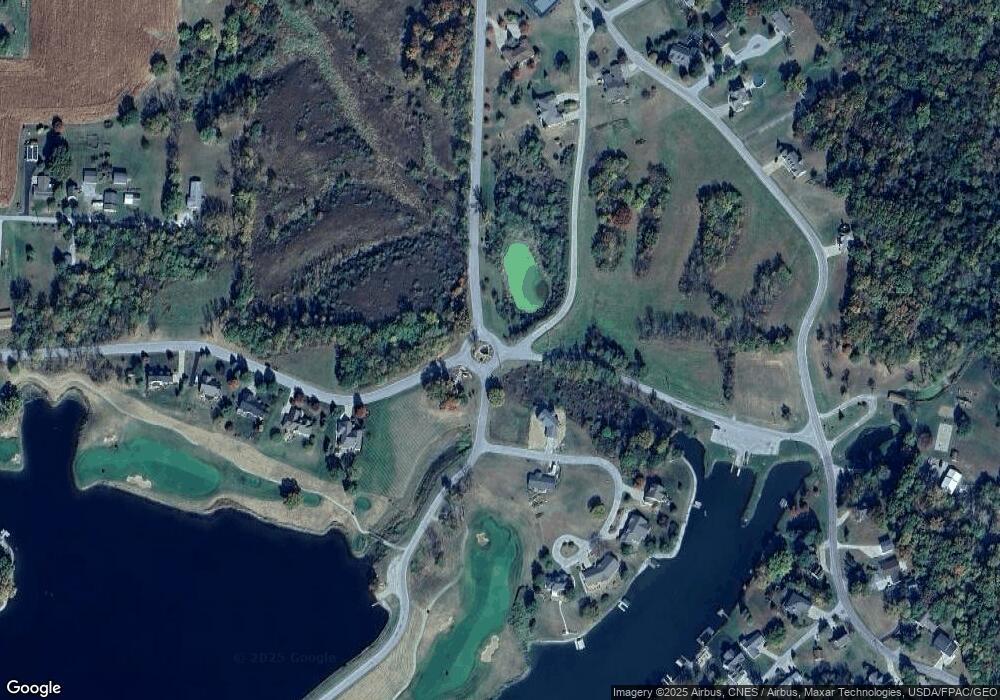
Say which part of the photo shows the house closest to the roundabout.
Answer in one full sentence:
The house closest to the roundabout is in the center part of the image.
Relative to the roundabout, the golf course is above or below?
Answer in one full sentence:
From this view, the golf course can be seen below the roundabout.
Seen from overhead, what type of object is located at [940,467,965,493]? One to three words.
building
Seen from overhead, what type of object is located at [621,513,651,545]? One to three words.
house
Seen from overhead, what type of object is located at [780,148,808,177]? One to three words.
house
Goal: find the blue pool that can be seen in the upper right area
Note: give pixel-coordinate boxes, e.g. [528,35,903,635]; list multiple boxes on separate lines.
[752,73,767,88]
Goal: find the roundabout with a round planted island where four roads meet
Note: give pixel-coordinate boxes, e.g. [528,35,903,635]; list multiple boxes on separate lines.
[425,322,541,388]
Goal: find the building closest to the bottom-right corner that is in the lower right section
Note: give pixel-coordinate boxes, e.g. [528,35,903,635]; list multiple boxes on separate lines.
[931,627,961,658]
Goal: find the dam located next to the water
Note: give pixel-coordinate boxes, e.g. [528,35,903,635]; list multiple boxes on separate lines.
[305,598,424,700]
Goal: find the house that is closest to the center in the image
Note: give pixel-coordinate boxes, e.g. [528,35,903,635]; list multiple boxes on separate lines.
[536,407,559,438]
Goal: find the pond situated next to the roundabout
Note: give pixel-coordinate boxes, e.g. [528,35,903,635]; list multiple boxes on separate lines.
[505,242,549,312]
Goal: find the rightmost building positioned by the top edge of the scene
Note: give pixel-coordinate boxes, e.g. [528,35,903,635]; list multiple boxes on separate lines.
[771,8,795,33]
